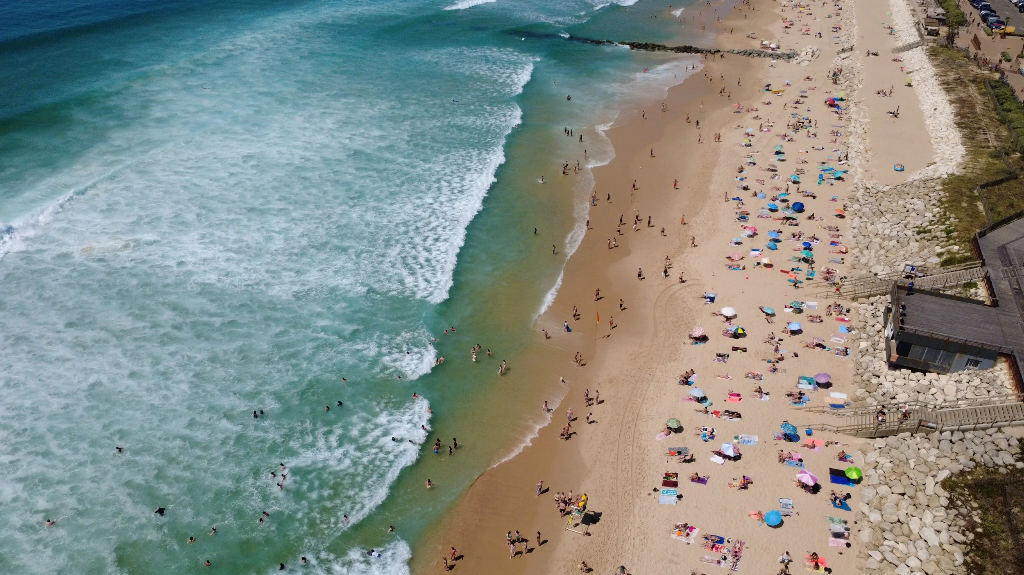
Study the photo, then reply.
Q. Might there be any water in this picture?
Yes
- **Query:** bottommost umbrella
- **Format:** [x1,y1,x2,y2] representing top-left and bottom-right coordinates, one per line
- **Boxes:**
[763,513,783,533]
